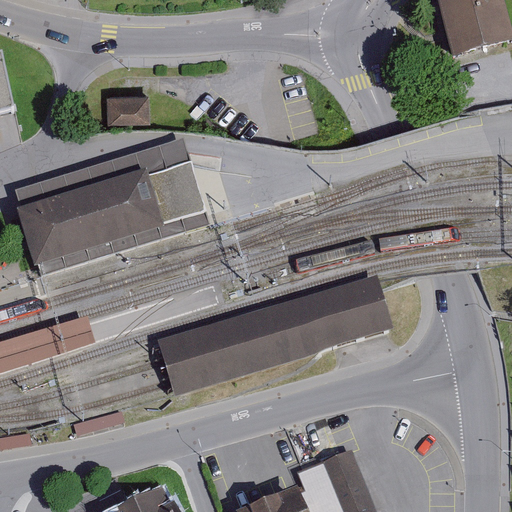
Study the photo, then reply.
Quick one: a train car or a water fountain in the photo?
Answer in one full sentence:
It is a train car that can be seen here.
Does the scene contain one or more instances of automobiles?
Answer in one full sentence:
Yes, the picture does show an automobile.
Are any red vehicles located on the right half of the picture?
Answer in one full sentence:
Yes, a red vehicle can be seen on the right half of the picture.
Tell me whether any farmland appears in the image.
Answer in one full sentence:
No, there is no farmland in the image.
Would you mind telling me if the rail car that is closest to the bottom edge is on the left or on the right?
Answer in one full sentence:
The rail car that is closest to the bottom edge is on the left side of the image.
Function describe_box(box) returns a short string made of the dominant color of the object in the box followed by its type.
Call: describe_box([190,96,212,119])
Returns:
white vehicle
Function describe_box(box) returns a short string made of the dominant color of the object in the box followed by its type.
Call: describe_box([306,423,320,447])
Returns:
white vehicle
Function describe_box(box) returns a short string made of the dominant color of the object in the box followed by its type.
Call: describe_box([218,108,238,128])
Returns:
white car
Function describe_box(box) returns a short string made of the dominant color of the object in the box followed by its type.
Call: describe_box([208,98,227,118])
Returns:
black car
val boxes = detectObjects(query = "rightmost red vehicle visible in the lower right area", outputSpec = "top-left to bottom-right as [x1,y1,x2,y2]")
[416,434,436,456]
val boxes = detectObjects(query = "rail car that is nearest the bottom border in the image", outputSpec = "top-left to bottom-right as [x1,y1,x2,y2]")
[0,298,49,324]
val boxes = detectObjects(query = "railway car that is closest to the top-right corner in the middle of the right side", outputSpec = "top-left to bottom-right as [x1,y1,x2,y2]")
[377,226,460,254]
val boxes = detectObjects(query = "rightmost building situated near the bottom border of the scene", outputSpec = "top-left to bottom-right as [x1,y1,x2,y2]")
[298,450,376,512]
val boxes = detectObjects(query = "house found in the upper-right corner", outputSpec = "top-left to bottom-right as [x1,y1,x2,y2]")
[438,0,512,56]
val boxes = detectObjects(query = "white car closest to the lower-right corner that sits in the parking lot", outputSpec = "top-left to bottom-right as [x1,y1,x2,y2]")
[395,418,410,440]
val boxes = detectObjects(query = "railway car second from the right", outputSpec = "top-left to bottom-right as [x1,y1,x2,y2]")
[294,242,376,274]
